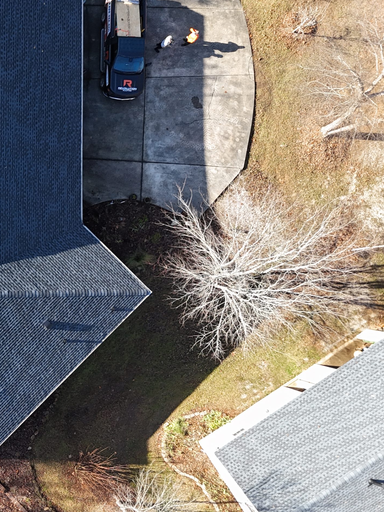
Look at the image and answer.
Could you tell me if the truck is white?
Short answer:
No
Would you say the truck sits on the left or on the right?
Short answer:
left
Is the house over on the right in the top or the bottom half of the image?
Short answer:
bottom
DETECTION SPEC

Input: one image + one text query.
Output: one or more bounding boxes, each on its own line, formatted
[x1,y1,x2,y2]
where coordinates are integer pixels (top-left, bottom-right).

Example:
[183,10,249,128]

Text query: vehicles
[100,0,152,103]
